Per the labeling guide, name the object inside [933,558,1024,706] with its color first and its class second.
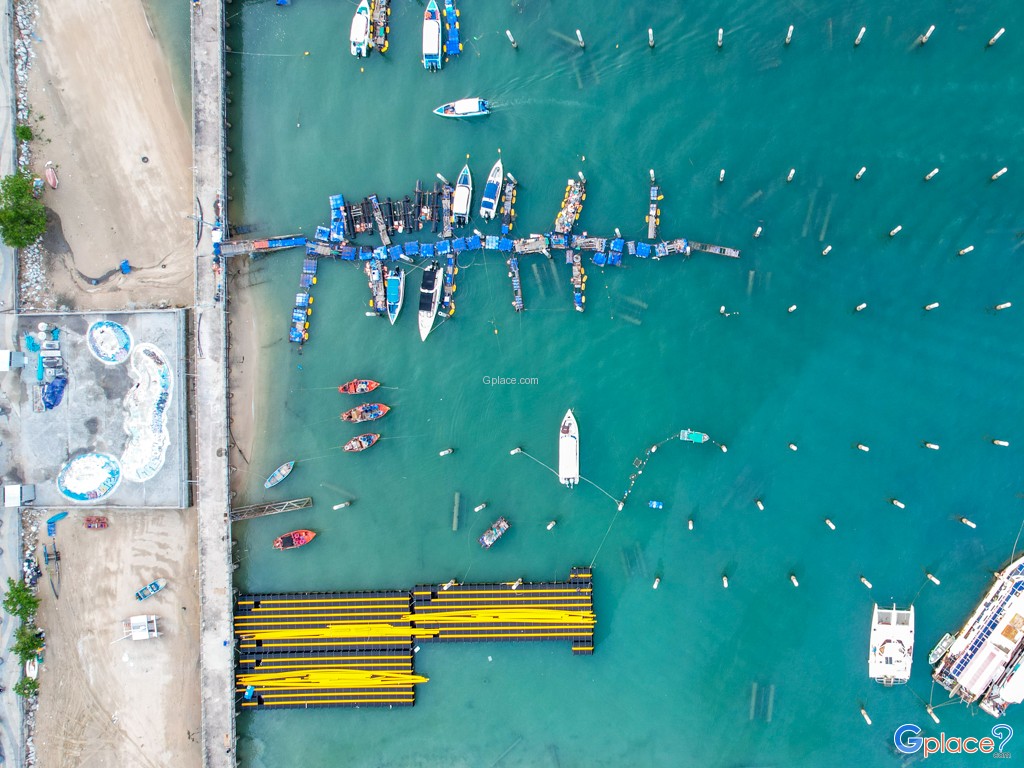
white ship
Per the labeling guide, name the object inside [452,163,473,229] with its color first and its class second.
white boat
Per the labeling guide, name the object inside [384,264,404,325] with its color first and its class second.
blue boat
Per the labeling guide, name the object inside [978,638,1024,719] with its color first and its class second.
white boat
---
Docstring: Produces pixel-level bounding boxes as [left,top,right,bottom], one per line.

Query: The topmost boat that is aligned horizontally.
[433,97,494,117]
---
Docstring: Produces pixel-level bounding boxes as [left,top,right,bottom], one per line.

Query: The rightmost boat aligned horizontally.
[679,430,709,443]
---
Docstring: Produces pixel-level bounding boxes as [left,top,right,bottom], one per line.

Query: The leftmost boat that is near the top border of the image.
[349,0,371,61]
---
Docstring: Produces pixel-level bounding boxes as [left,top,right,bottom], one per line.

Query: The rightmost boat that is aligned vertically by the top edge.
[422,0,442,73]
